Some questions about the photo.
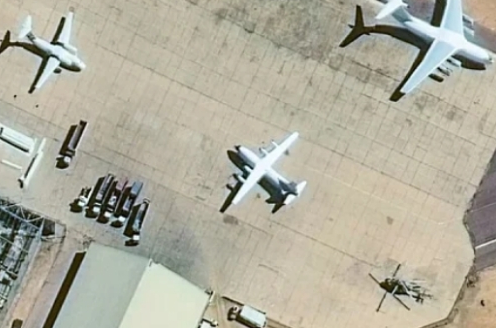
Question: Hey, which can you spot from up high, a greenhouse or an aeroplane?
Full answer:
I can see an aeroplane in this picture.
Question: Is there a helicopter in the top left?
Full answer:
No, no helicopter appears in the top left.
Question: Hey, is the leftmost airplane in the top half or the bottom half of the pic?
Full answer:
It is in the top half that the leftmost airplane appears.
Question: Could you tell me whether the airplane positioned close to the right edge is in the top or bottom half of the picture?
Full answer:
The airplane positioned close to the right edge sits in the top half of the picture.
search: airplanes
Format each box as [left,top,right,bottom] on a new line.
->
[376,0,493,90]
[230,129,307,208]
[18,12,84,89]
